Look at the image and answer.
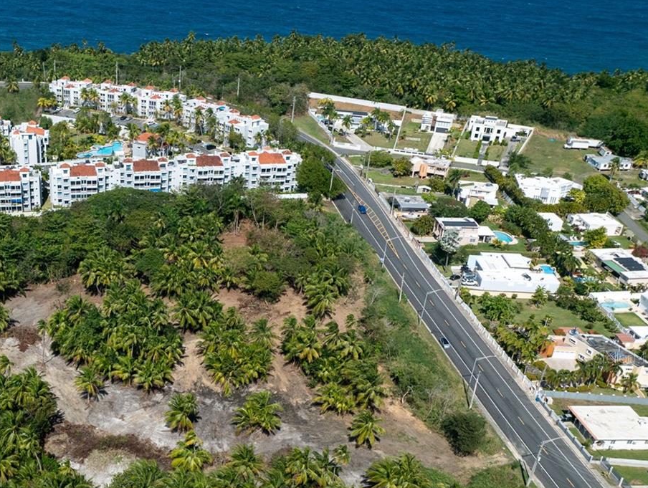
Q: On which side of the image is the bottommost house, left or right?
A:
right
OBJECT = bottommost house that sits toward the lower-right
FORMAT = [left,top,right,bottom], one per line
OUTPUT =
[565,404,648,453]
